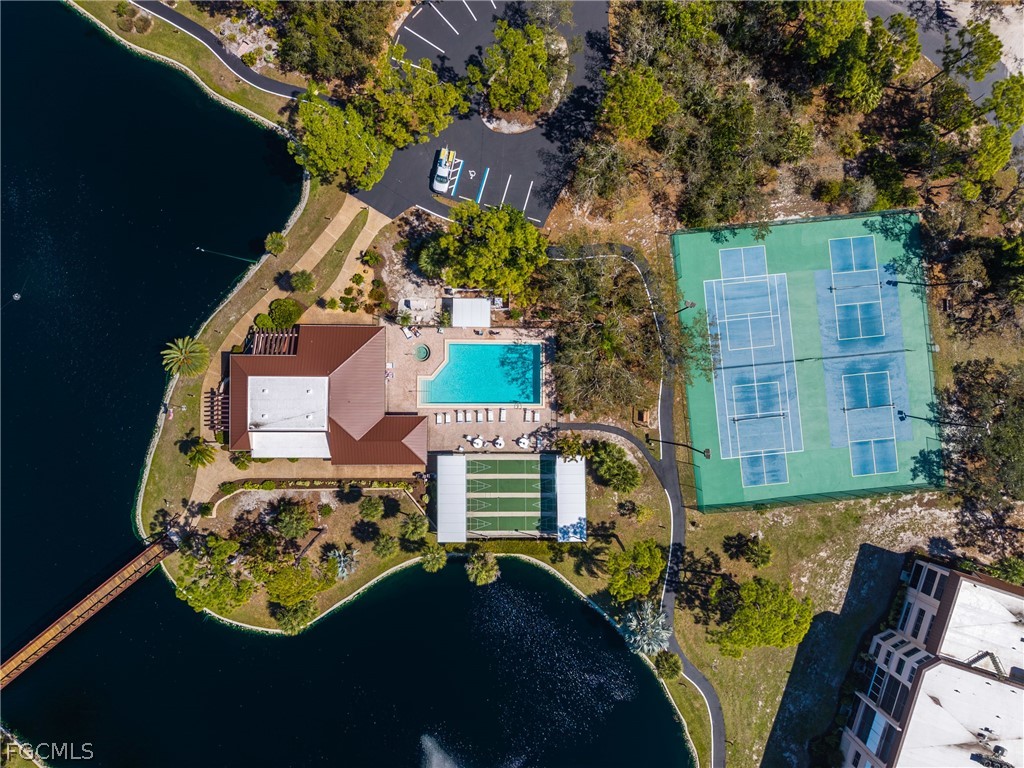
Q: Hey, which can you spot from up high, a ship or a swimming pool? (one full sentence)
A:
Looking from above, you can make out a swimming pool.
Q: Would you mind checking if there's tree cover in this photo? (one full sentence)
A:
Yes, tree cover can be seen from above here.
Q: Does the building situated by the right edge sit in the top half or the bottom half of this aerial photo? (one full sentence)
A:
The building situated by the right edge is in the bottom half of the image.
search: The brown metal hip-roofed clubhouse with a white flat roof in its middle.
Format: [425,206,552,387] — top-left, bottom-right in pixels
[204,324,428,466]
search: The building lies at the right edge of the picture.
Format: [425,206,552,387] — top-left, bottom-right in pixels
[832,557,1024,768]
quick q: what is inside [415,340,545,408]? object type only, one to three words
swimming pool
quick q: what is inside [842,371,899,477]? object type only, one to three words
sports court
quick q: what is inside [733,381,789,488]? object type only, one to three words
sports court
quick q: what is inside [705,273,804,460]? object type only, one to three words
tennis court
